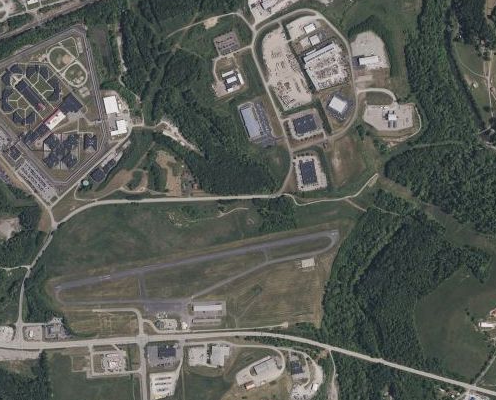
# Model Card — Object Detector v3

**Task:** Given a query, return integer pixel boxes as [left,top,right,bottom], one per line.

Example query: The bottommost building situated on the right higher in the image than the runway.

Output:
[299,159,317,185]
